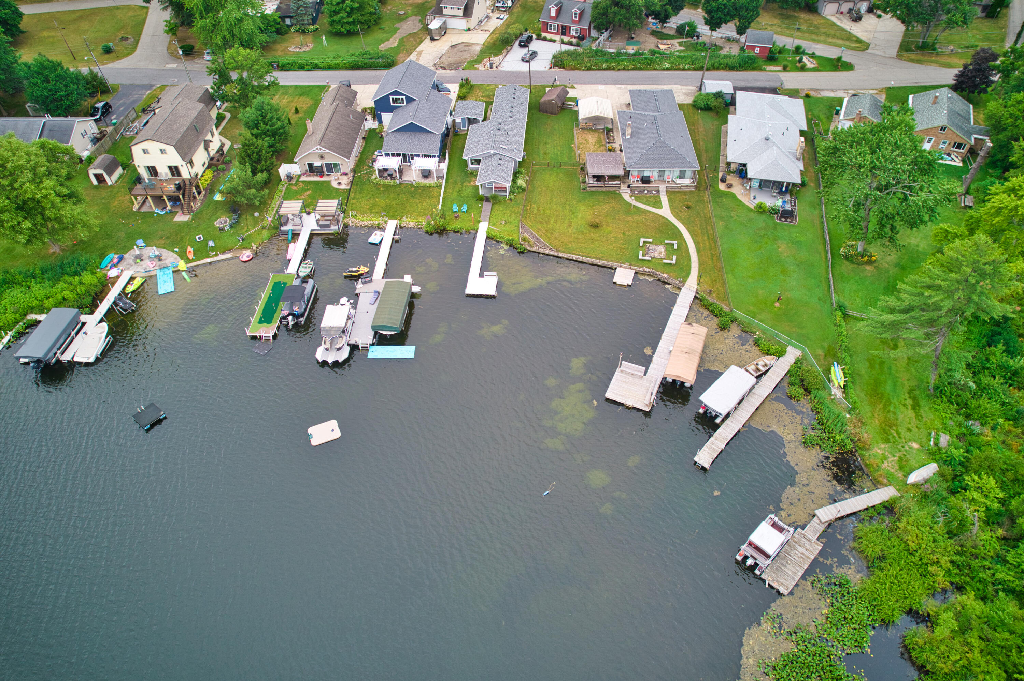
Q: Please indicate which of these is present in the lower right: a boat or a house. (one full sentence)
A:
It is a boat that can be seen in the lower right.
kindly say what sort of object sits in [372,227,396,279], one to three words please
pier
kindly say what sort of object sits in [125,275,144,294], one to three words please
boat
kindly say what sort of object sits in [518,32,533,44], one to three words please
vehicle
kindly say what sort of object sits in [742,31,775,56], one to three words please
shed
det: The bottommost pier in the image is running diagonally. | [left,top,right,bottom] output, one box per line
[760,517,829,599]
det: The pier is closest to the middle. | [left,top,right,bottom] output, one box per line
[465,232,497,297]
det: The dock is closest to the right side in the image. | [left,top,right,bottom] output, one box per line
[814,486,900,523]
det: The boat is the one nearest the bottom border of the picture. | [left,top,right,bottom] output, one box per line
[741,512,794,573]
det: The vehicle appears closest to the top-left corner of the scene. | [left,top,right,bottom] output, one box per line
[89,100,111,119]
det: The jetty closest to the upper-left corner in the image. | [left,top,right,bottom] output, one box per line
[59,273,131,365]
